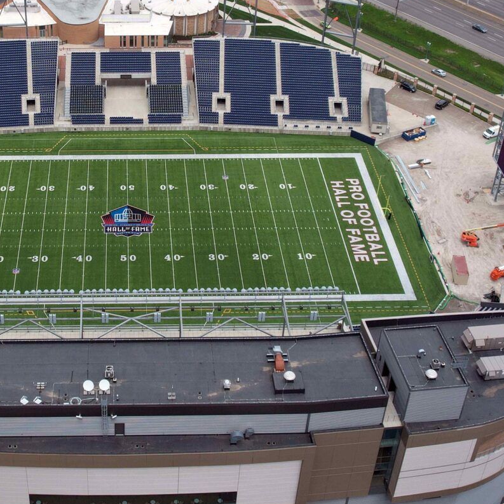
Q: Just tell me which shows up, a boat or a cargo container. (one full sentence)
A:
There is a cargo container in the scene.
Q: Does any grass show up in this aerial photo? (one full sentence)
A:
Yes, grass can be seen from above here.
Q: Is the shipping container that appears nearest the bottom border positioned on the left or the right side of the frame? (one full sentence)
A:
It is on the right.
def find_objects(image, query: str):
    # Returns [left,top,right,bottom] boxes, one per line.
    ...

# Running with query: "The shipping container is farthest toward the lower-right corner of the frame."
[450,257,475,287]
